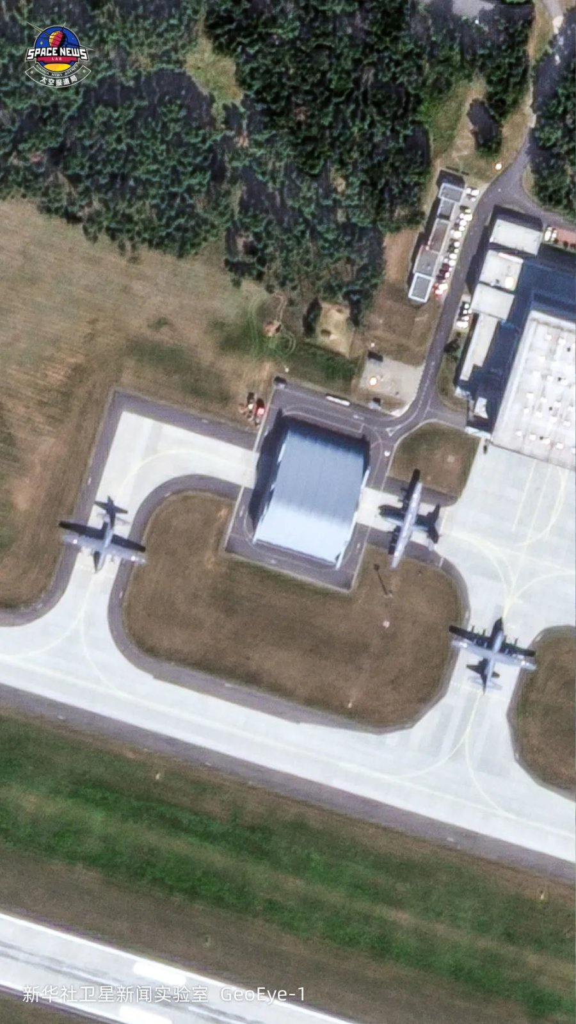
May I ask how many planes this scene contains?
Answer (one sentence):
The count of planes comes to 3.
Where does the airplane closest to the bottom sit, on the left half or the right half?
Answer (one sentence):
The airplane closest to the bottom is on the right side of the image.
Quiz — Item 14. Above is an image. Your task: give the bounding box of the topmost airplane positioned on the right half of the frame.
[381,484,445,568]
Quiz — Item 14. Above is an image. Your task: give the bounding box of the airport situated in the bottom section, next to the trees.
[0,380,576,1024]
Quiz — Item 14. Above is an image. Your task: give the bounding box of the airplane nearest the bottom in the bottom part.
[453,628,536,695]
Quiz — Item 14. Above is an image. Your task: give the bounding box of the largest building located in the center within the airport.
[252,418,371,568]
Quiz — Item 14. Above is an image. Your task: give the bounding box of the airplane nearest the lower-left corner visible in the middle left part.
[62,512,147,571]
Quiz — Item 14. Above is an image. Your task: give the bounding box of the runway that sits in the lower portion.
[0,914,349,1024]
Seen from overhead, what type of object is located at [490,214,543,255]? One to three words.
building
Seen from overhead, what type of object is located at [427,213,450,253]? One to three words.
building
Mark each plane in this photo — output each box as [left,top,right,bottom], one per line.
[381,484,445,568]
[62,512,147,571]
[453,628,536,695]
